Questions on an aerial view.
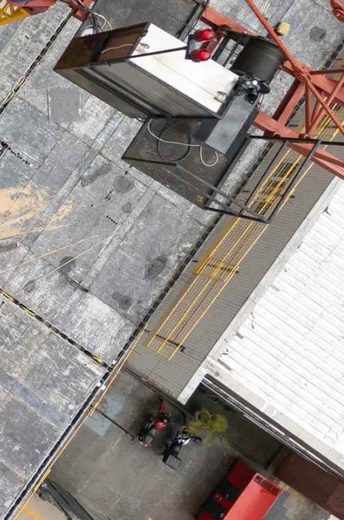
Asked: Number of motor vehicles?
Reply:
2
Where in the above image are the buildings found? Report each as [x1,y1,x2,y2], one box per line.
[0,0,344,520]
[161,168,344,507]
